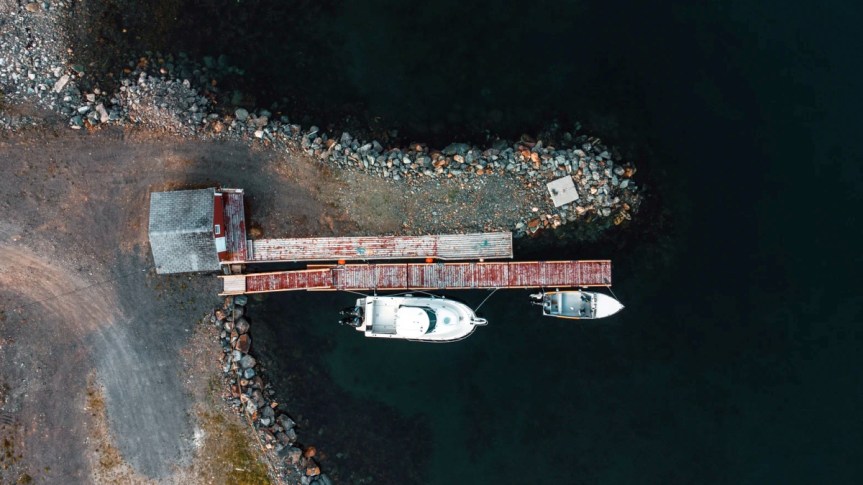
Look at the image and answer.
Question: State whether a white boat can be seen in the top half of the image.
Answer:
No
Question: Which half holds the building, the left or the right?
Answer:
left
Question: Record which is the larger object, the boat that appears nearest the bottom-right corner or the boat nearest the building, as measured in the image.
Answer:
the boat nearest the building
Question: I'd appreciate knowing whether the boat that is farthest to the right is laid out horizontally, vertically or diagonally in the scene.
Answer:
horizontally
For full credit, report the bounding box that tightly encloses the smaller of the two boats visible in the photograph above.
[526,290,624,319]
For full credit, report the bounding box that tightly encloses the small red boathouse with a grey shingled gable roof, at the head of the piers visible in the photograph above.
[148,189,233,273]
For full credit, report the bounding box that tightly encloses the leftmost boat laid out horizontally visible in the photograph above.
[336,296,488,343]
